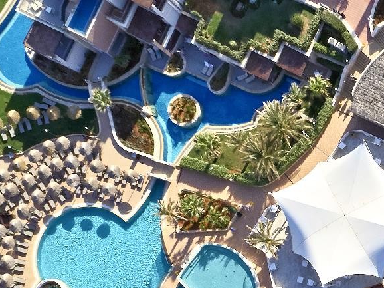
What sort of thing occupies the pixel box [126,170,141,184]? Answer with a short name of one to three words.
umbrella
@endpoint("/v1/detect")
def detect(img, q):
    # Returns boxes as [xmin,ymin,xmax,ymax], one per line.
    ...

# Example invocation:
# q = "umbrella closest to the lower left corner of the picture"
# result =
[2,273,18,288]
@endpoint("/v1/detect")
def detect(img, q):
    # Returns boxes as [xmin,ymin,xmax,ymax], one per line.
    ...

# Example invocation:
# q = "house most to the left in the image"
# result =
[11,0,141,77]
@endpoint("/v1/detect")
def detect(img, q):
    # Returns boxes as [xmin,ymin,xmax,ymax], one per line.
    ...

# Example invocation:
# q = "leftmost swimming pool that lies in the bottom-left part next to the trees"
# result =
[35,172,173,288]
